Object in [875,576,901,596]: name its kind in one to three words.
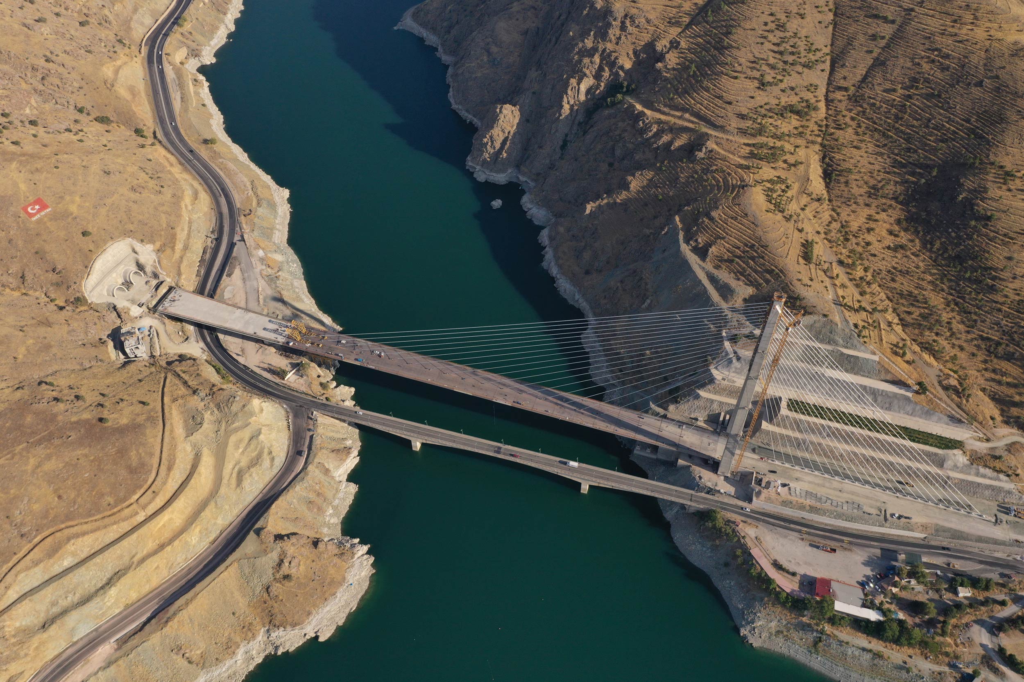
house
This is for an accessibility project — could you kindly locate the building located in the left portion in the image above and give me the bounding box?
[121,328,149,356]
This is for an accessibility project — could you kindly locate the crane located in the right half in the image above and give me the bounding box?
[735,309,807,466]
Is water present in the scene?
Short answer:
Yes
